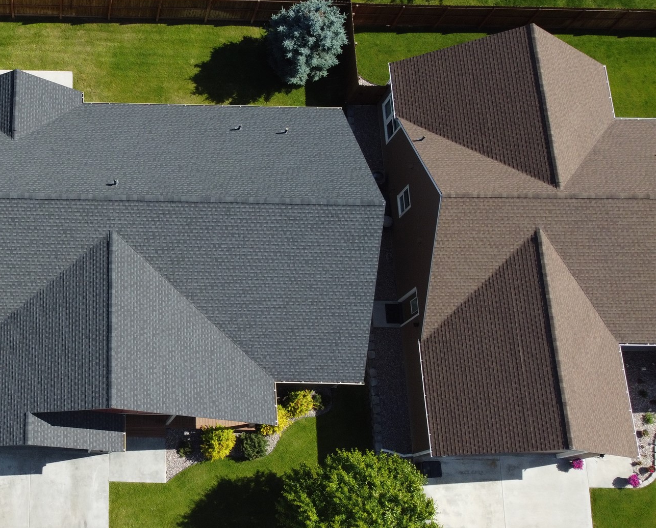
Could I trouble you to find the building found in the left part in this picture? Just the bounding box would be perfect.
[0,69,380,455]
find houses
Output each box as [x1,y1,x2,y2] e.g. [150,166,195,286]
[0,69,380,455]
[379,21,656,462]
